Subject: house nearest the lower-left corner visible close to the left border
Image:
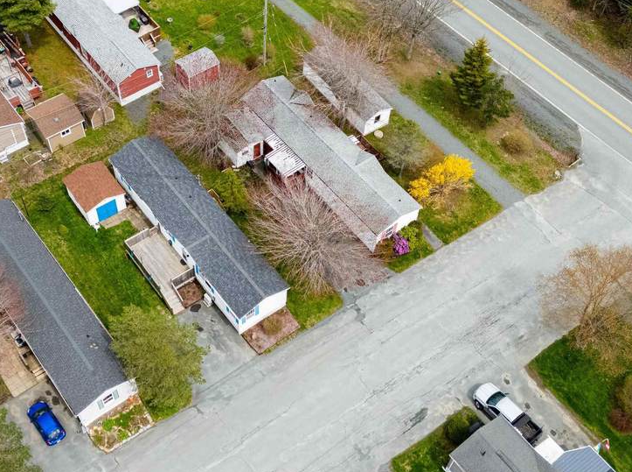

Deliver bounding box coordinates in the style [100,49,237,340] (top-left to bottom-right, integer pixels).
[0,200,134,428]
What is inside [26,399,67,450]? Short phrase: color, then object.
blue car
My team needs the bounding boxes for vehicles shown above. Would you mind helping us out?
[469,382,548,446]
[26,399,67,450]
